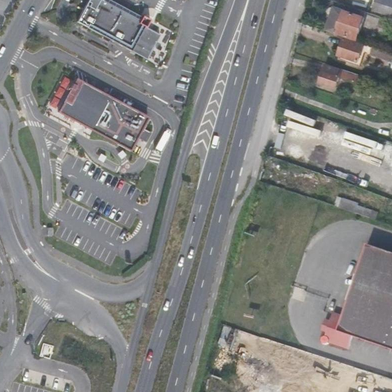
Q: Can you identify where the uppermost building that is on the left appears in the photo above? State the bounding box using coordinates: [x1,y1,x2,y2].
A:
[78,0,162,58]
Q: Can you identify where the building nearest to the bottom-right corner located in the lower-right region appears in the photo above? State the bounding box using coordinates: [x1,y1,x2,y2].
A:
[320,244,392,350]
